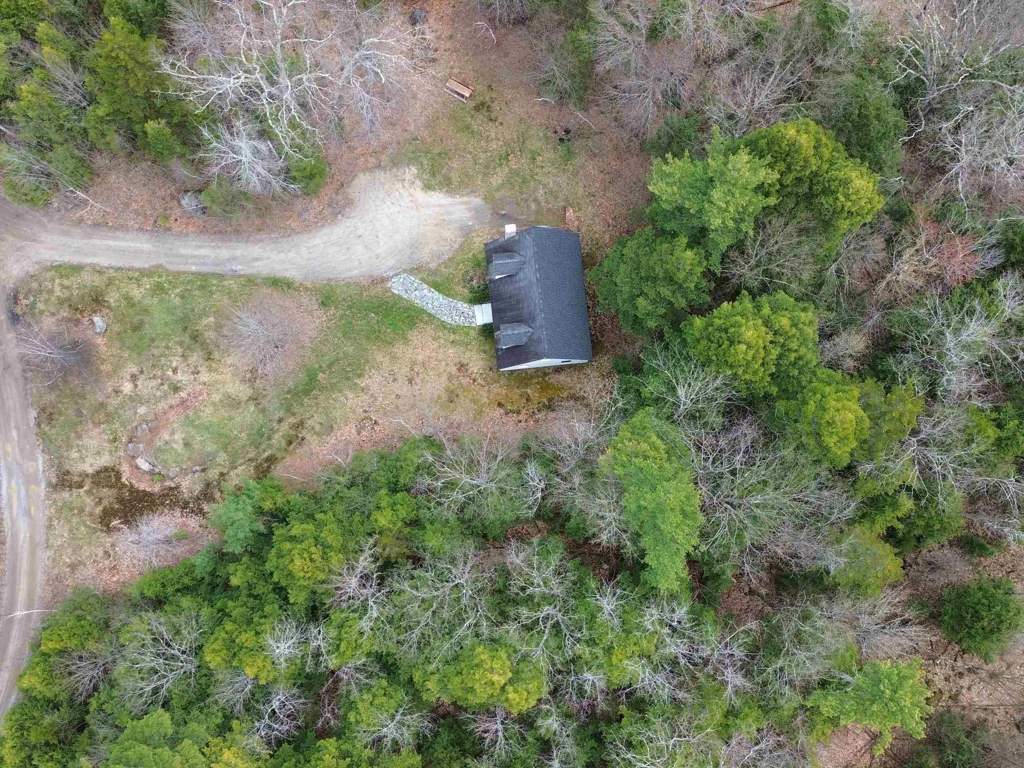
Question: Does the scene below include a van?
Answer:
No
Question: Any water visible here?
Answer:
No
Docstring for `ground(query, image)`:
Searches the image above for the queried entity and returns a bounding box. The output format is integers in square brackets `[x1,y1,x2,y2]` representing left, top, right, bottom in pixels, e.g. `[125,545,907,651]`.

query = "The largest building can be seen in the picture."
[475,219,594,373]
